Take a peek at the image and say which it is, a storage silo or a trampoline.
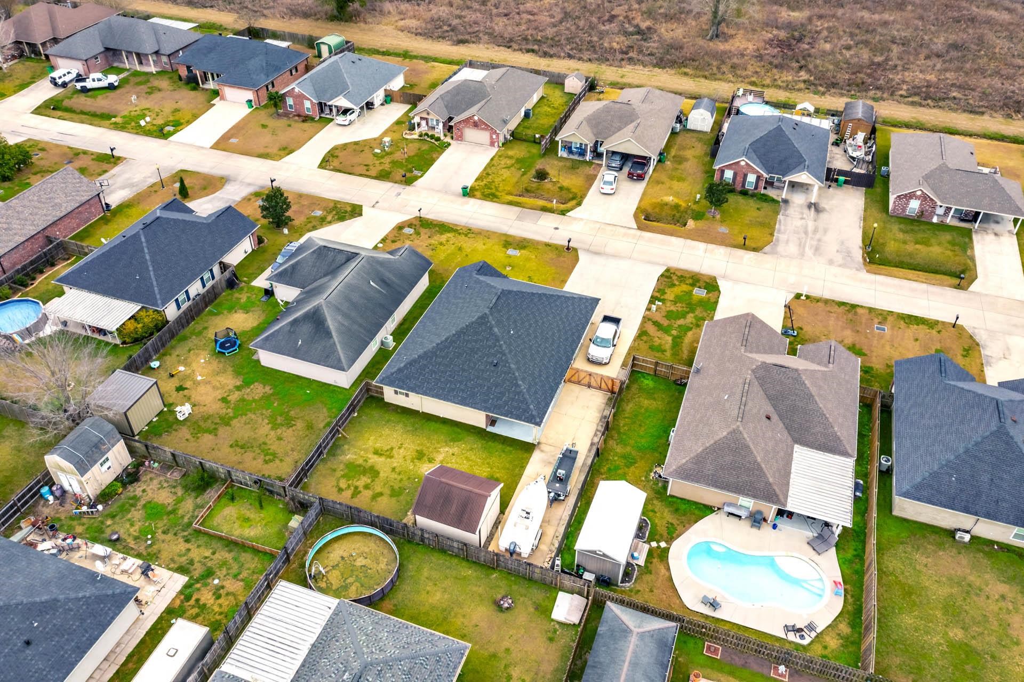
trampoline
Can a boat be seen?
Yes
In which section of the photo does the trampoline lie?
left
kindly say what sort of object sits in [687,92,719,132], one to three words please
shed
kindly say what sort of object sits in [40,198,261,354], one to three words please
house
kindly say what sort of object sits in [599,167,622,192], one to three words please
car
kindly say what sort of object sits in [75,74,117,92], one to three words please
vehicle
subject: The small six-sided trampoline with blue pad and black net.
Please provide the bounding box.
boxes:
[208,324,240,355]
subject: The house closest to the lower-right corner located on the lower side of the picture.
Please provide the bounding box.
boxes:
[887,354,1024,553]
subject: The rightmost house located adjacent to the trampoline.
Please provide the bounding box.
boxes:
[250,236,438,392]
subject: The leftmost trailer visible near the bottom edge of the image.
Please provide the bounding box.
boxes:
[132,618,222,682]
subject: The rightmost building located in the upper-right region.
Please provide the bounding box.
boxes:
[886,131,1024,239]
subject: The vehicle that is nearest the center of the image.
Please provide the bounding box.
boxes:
[587,306,625,364]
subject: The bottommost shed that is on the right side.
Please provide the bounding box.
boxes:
[583,601,681,682]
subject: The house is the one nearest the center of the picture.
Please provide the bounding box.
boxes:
[373,260,600,444]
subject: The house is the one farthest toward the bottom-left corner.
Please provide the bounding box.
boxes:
[0,538,140,682]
